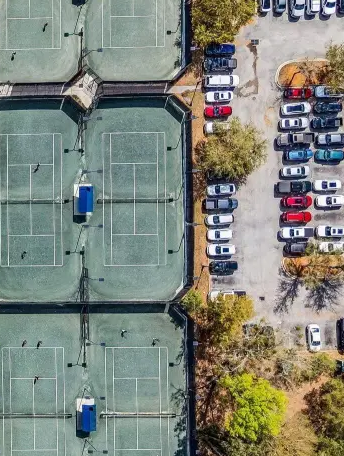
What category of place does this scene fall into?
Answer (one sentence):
The picture captures a sports ground.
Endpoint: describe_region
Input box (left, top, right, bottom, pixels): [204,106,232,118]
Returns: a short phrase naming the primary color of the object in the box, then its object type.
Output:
red vehicle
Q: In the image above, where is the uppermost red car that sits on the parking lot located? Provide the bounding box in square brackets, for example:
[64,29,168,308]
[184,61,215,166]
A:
[285,87,312,100]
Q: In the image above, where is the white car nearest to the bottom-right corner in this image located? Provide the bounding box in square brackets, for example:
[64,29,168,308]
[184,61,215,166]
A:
[306,324,322,351]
